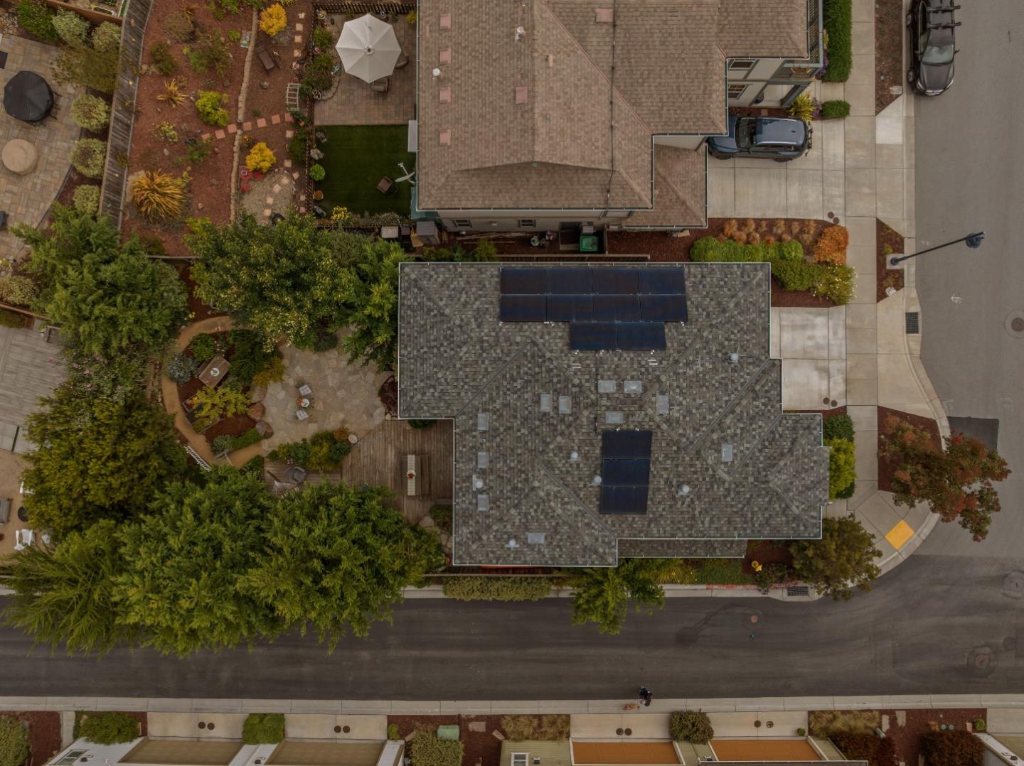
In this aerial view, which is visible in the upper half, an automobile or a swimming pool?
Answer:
automobile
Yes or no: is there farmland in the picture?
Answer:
No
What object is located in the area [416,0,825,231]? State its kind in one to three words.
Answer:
house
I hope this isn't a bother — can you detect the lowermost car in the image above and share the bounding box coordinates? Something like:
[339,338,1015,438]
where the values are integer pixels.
[708,107,825,160]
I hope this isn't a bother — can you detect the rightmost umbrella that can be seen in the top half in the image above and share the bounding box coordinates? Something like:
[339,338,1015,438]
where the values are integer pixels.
[338,20,402,85]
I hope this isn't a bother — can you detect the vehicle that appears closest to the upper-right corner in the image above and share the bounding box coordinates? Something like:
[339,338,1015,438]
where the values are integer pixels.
[906,0,970,99]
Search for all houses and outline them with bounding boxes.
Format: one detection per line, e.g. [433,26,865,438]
[975,734,1024,766]
[399,262,830,568]
[46,737,404,766]
[416,0,825,231]
[500,740,869,766]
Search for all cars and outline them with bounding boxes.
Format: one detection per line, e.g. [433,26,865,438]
[906,0,970,99]
[708,107,825,160]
